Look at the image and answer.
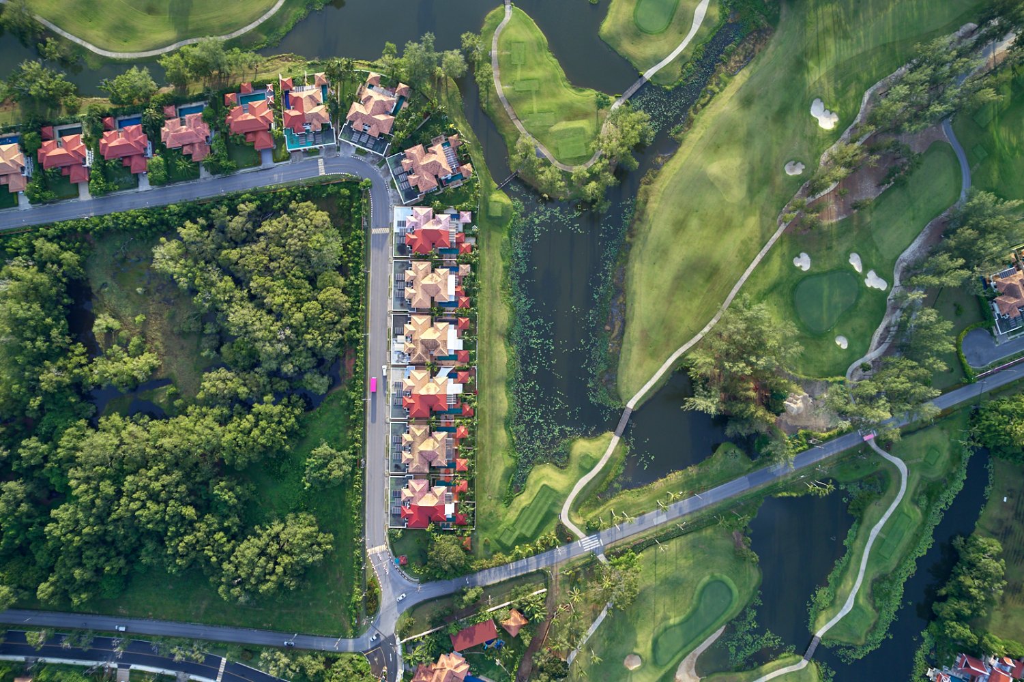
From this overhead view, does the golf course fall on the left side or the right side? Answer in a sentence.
It is on the right.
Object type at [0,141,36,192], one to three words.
house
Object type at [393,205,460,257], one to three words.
house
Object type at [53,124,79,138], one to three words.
swimming pool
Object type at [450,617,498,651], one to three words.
building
